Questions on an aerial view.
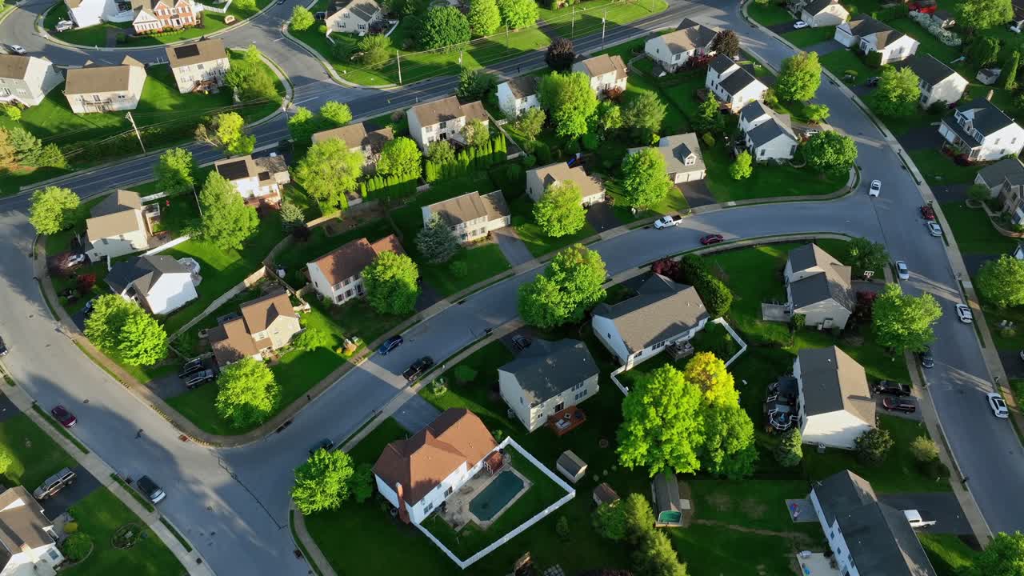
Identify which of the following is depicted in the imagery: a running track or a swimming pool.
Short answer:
swimming pool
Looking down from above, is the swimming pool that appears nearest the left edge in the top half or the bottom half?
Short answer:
bottom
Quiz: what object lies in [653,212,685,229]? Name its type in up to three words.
vehicle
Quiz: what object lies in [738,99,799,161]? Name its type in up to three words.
house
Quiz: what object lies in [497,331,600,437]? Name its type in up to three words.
house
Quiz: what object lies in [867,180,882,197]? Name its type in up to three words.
car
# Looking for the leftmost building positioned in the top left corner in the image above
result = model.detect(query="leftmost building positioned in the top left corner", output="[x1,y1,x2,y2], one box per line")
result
[0,52,59,102]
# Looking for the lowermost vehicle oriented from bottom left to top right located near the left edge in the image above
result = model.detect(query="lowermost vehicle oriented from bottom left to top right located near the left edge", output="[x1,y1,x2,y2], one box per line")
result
[32,462,80,499]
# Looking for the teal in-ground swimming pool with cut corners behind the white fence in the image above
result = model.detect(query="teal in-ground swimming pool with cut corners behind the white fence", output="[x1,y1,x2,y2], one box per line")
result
[468,467,525,521]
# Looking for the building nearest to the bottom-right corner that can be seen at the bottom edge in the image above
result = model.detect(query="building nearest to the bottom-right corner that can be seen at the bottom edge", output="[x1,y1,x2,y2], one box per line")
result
[806,463,940,576]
